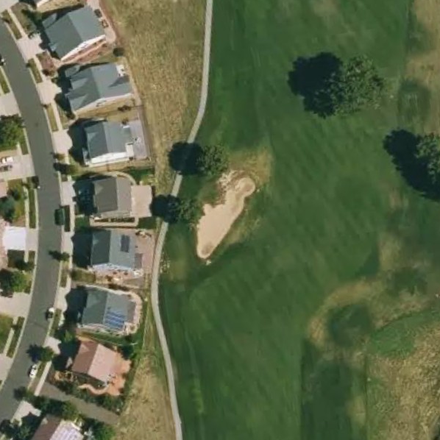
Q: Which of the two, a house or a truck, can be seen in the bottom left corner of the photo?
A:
house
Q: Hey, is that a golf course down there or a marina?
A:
golf course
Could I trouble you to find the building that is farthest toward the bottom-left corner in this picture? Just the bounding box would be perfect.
[29,409,90,440]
